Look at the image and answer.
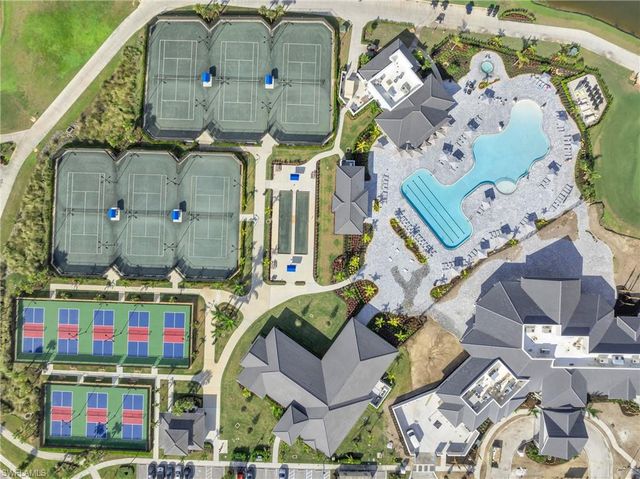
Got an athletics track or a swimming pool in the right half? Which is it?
swimming pool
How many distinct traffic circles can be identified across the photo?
0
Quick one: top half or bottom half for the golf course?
top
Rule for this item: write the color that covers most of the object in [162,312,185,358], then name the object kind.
blue sports court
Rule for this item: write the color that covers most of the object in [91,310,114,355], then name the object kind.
blue sports court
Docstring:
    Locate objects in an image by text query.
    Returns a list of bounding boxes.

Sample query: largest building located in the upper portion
[359,39,456,149]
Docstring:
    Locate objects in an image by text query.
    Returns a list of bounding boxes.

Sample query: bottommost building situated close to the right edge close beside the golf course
[437,278,640,430]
